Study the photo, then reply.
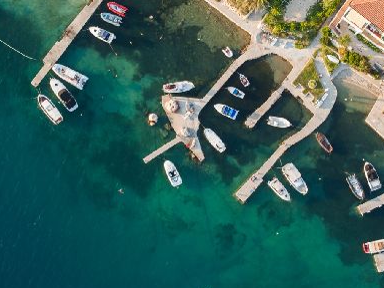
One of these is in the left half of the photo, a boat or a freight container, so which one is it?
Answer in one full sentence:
It is a boat that can be seen in the left half of the photo.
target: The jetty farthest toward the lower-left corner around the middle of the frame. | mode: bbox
[142,136,182,165]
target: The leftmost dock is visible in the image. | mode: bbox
[31,0,105,88]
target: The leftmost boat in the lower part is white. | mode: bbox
[162,157,183,190]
